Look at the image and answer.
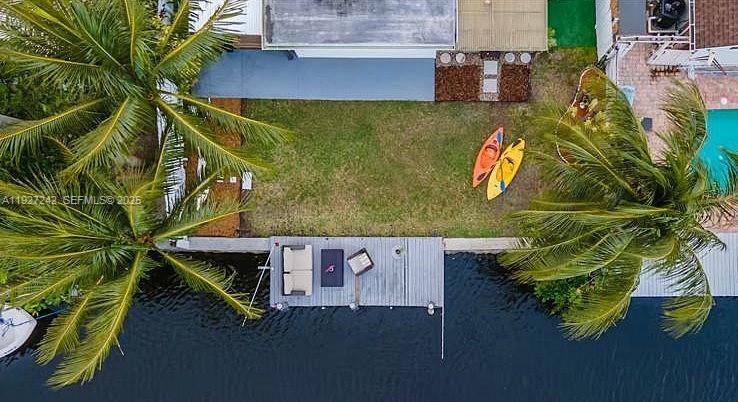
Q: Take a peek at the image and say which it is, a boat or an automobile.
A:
boat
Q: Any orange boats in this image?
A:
Yes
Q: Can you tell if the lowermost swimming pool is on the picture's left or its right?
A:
right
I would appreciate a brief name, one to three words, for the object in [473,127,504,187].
boat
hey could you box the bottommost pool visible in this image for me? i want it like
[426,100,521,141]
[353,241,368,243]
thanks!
[701,97,738,200]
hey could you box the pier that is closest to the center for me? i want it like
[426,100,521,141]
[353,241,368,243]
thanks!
[270,237,443,310]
